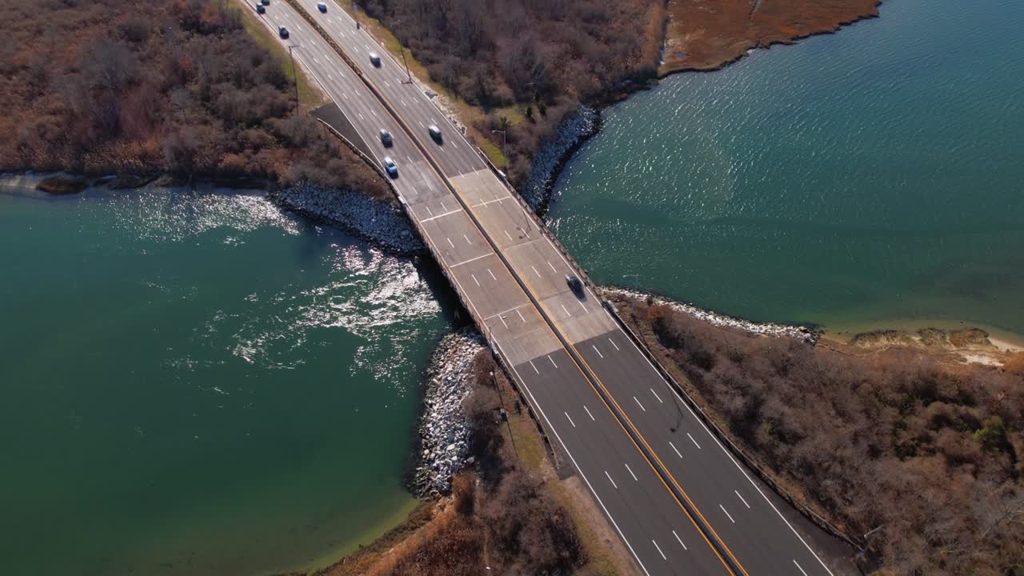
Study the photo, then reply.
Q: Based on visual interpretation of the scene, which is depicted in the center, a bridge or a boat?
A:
bridge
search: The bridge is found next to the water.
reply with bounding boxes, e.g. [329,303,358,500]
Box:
[397,167,624,367]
